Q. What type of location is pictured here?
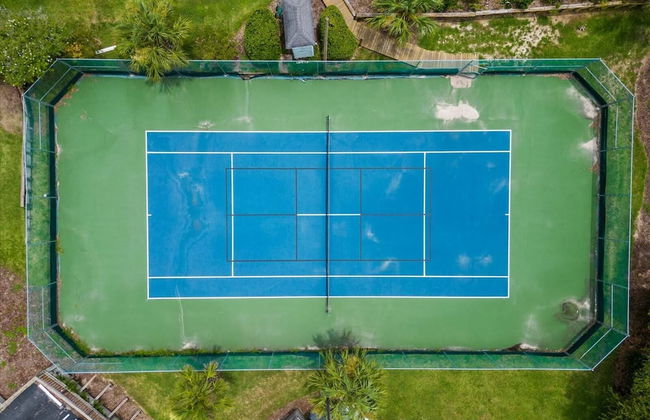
sports ground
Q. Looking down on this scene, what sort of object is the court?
tennis court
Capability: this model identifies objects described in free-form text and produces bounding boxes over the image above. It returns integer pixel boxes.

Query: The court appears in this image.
[55,74,602,354]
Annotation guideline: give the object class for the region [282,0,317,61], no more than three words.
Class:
shed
